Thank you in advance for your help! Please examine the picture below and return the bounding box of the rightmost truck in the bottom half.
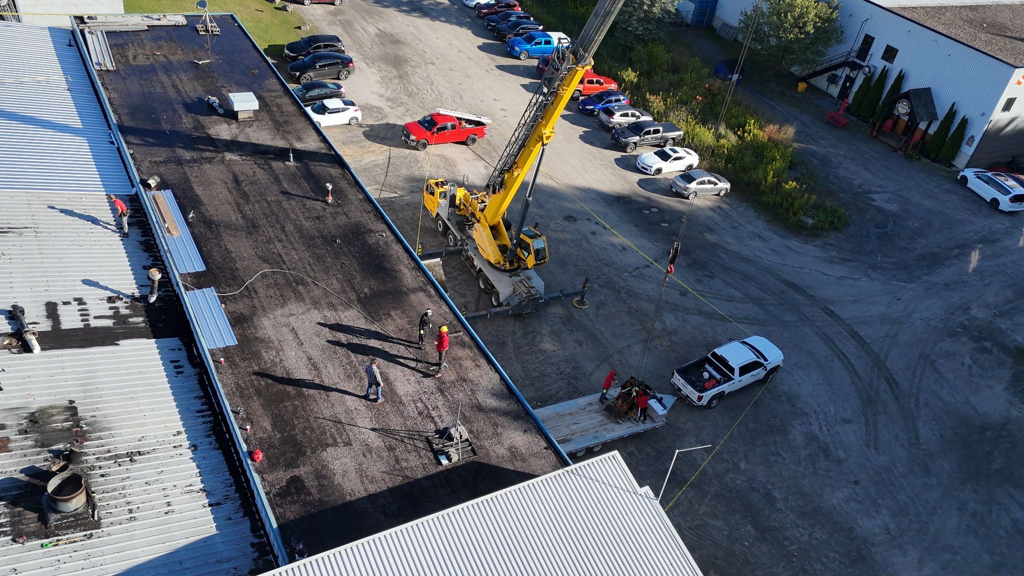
[666,333,788,409]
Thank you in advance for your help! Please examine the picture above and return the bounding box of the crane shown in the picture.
[420,0,631,325]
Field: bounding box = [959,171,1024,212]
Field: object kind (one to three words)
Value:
car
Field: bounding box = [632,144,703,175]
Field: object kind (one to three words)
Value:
car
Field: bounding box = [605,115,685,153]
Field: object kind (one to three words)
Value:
truck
